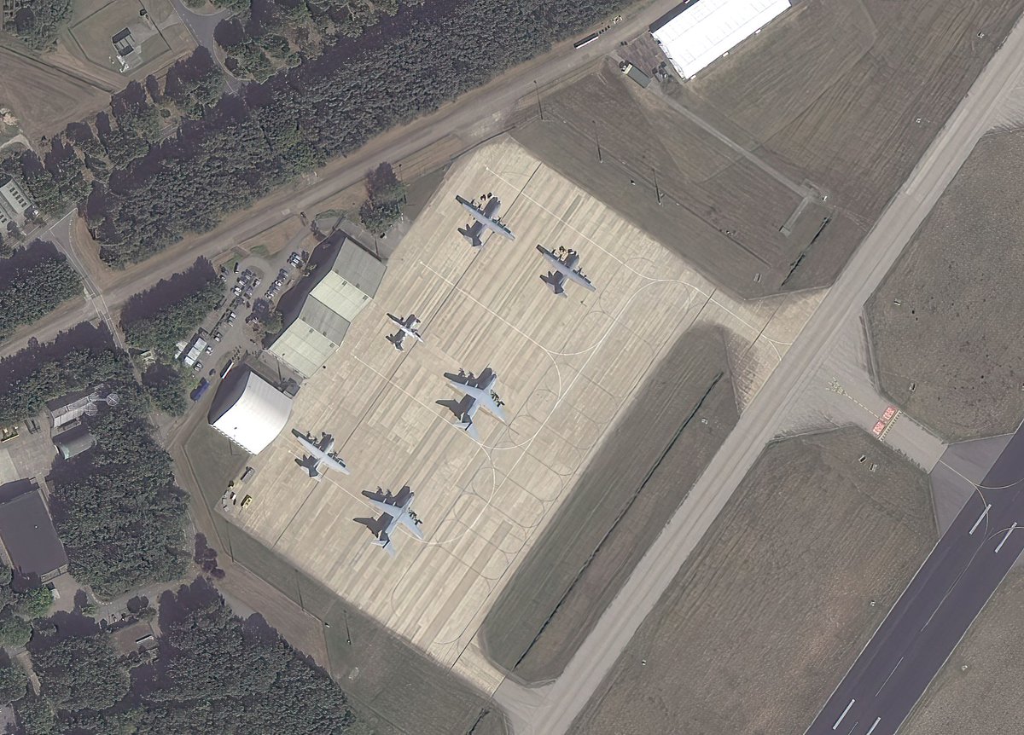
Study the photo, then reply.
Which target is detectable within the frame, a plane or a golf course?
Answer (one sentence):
This aerial view contains a plane.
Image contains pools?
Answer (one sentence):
No, there appears to be no pool in this shot.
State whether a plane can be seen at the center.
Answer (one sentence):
Yes, a plane is visible at the center.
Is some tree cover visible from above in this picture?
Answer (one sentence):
Yes, some tree cover is visible.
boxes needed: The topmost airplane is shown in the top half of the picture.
[461,201,517,249]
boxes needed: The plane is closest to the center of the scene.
[449,375,506,441]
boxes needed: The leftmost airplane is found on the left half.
[296,436,351,484]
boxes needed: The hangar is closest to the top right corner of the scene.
[645,0,793,78]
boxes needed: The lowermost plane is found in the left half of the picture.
[367,491,424,559]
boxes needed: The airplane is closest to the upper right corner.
[542,252,598,300]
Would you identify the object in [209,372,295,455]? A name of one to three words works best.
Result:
hangar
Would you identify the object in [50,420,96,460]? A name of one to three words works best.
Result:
shed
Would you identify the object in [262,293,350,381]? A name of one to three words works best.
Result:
hangar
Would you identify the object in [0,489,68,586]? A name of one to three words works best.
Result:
building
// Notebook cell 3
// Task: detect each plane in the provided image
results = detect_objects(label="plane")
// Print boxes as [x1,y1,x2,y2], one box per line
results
[542,252,598,300]
[390,319,425,350]
[367,491,424,559]
[449,375,506,441]
[461,201,517,249]
[296,436,351,484]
